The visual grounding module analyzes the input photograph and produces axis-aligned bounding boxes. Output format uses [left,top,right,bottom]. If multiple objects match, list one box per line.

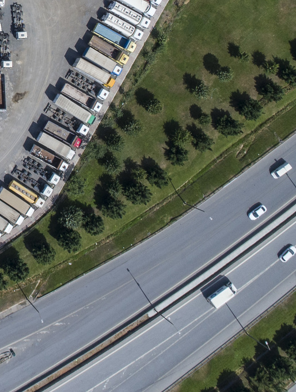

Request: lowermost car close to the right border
[279,245,295,261]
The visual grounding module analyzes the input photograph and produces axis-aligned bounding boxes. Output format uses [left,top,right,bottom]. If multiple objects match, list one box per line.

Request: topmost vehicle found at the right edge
[269,163,291,177]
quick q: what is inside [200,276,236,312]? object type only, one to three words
truck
